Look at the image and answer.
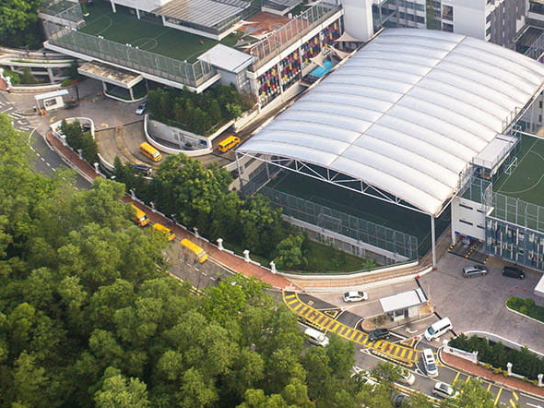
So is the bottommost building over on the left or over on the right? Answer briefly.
right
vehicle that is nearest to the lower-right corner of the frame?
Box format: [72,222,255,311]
[430,381,459,399]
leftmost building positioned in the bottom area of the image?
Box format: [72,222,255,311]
[369,289,431,325]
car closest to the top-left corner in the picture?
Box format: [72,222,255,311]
[135,101,148,114]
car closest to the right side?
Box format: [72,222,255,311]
[500,262,527,280]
